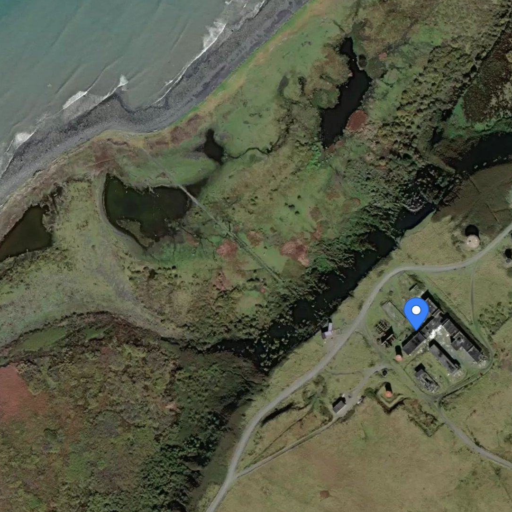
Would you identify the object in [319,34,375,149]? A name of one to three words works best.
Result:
pond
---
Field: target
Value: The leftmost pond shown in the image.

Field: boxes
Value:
[0,206,56,263]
